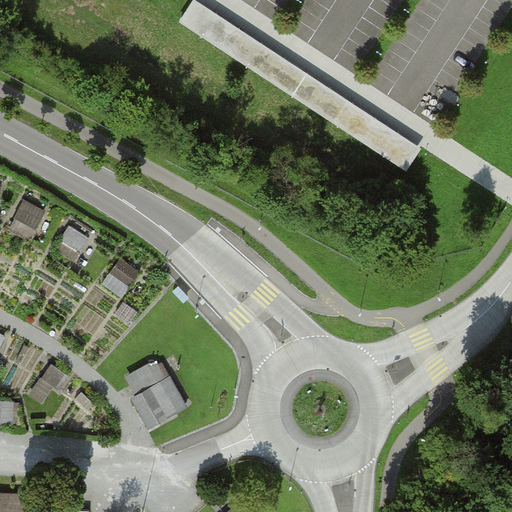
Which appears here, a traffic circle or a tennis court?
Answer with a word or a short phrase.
traffic circle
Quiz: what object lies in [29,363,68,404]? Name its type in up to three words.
shed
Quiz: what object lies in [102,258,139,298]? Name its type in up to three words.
shed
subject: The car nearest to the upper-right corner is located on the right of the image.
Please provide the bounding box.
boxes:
[454,52,476,68]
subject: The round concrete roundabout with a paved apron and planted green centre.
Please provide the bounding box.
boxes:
[246,336,394,482]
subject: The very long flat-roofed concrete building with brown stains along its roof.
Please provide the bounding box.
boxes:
[180,0,421,170]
